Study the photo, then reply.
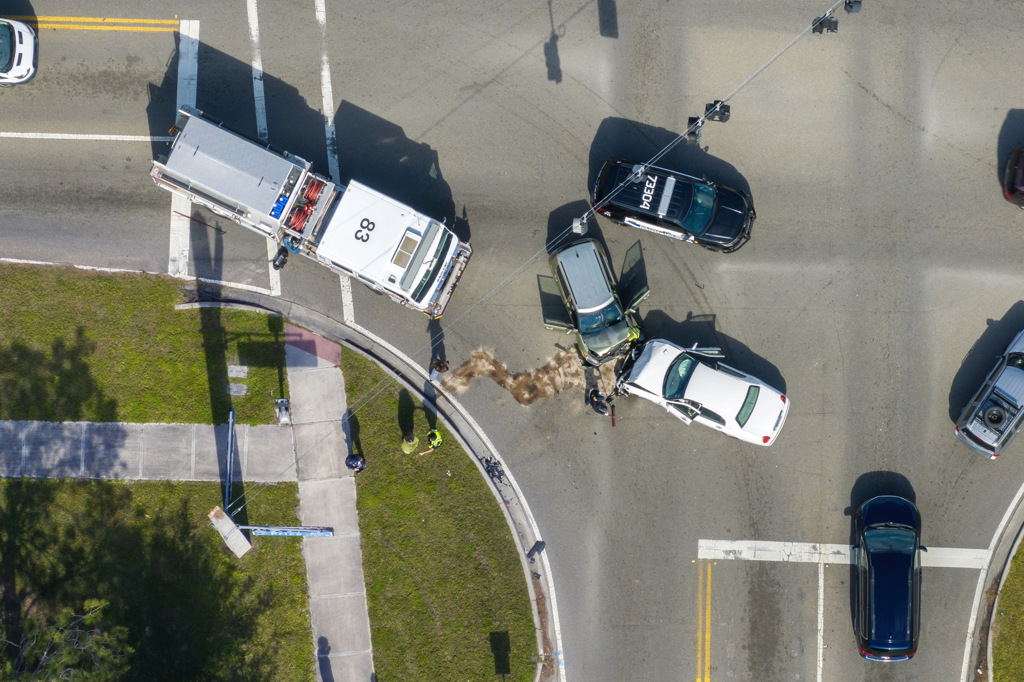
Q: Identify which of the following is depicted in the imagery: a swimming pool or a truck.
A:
truck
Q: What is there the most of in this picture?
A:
paved ground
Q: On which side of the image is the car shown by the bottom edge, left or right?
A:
right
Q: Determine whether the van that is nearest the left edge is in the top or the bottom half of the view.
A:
top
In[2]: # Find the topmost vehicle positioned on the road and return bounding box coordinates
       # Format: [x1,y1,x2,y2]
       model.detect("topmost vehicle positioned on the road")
[0,9,40,85]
